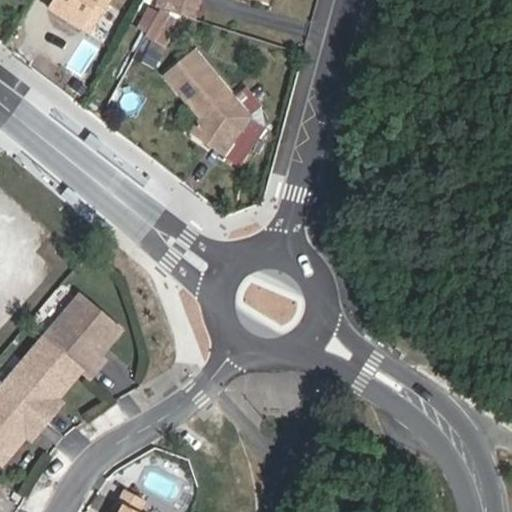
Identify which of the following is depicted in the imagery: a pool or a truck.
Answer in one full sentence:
I can see a pool in this picture.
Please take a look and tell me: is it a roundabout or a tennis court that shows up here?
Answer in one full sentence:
I can see a roundabout in this picture.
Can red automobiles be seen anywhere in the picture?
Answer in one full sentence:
No, there's no red automobile here.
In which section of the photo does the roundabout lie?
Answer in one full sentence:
The roundabout sits in the center section of the image.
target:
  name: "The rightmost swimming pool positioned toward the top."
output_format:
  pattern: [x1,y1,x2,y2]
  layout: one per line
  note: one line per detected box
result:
[119,86,147,118]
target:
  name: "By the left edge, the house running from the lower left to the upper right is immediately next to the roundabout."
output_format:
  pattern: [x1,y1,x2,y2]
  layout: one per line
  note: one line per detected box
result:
[0,294,124,472]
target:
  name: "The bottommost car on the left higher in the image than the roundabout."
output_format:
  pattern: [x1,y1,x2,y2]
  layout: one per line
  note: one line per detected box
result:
[192,161,208,182]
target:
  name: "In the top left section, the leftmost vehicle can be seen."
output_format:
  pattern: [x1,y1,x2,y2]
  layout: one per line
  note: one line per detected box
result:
[44,32,66,49]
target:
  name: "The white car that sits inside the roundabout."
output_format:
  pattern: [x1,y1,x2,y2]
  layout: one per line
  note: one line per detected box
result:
[300,254,312,278]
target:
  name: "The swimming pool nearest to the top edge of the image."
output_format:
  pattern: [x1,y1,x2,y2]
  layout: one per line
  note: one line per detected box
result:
[66,38,100,77]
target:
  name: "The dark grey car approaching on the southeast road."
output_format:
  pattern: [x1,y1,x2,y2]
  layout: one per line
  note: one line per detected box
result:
[412,381,433,400]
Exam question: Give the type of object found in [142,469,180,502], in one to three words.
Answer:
swimming pool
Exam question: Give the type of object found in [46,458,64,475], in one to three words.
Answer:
car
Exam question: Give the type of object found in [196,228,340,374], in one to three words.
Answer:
roundabout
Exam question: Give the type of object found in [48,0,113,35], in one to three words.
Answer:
house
